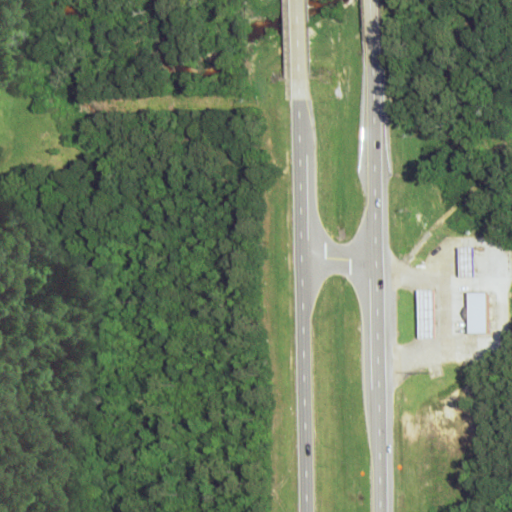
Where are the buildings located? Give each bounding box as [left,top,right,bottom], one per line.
[462,293,488,334]
[458,248,472,277]
[416,290,434,339]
